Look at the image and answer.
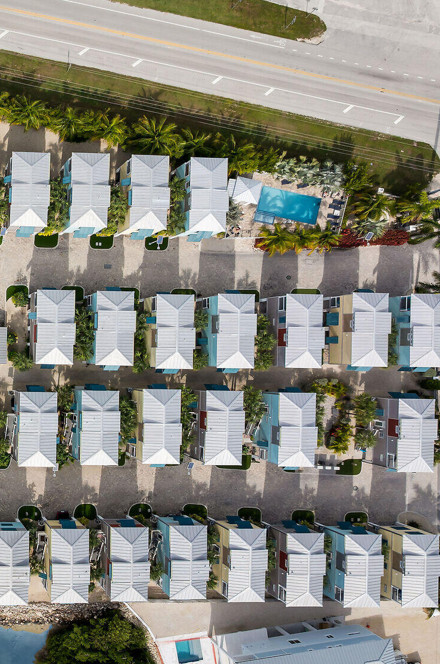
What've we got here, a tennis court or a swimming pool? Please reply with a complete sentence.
The one in the frame is a swimming pool.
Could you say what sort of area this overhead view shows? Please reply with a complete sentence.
It's a residential area.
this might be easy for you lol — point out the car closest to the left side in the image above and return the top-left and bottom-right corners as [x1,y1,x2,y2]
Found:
[57,502,71,521]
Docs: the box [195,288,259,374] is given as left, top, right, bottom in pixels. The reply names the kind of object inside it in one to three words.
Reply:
house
